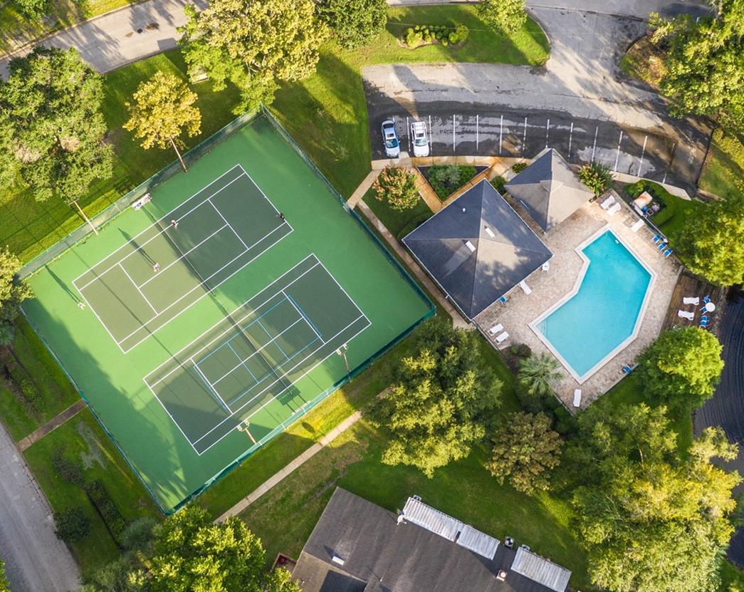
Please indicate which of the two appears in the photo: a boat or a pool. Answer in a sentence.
It is a pool that can be seen here.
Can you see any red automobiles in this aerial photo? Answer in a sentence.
No, no red automobile can be seen from above.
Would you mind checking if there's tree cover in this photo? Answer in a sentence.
Yes, tree cover shows up in the scene.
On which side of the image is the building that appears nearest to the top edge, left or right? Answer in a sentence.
The building that appears nearest to the top edge appears in the right half of the scene.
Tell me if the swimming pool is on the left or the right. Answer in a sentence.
It is on the right.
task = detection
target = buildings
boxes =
[294,486,572,592]
[503,149,596,234]
[403,179,555,320]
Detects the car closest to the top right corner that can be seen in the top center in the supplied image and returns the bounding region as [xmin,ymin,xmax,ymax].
[411,118,430,155]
